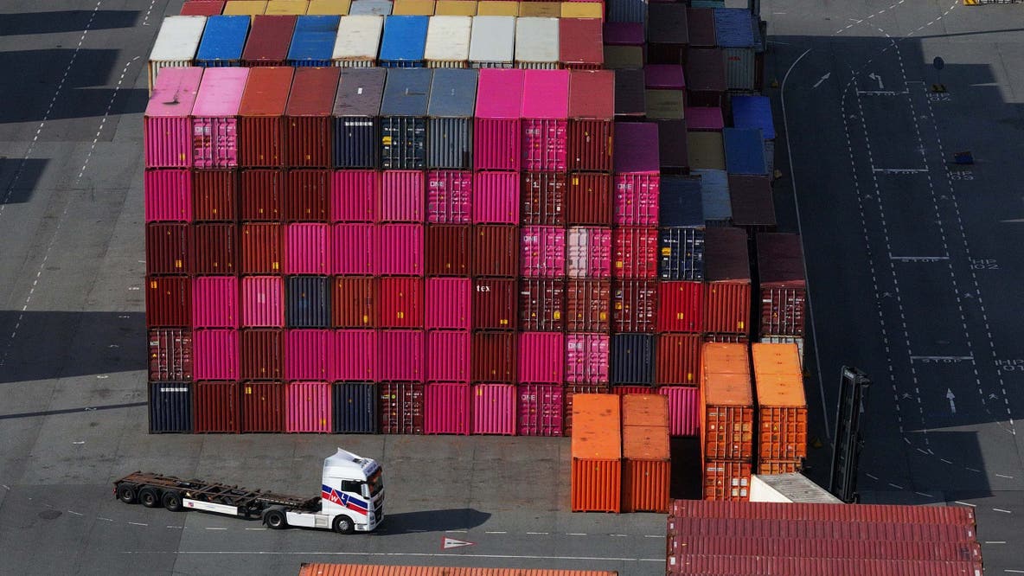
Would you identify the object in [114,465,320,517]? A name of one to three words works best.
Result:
trailer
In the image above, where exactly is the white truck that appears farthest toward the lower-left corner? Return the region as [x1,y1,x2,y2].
[262,447,383,533]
